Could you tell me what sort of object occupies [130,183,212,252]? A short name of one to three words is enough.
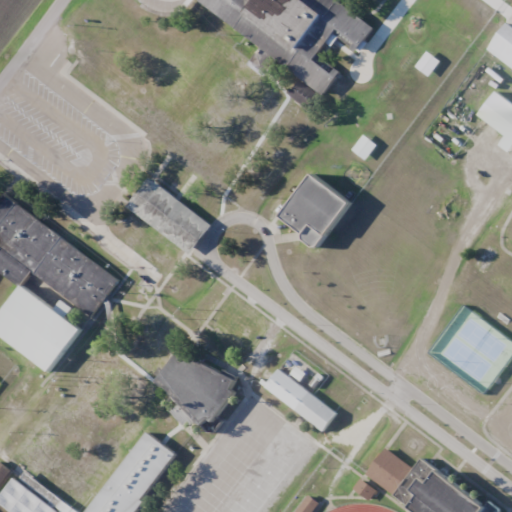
building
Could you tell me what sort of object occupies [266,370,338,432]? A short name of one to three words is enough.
building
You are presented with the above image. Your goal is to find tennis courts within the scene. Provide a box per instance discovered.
[430,306,512,394]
